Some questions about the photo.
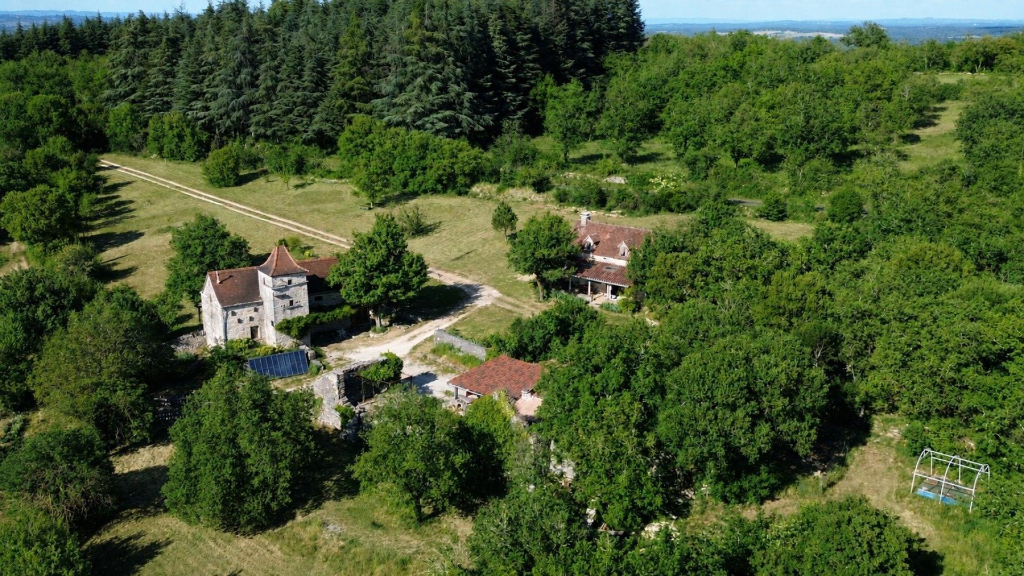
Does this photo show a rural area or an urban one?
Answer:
rural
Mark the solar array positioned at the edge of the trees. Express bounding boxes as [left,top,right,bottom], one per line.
[255,347,310,381]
